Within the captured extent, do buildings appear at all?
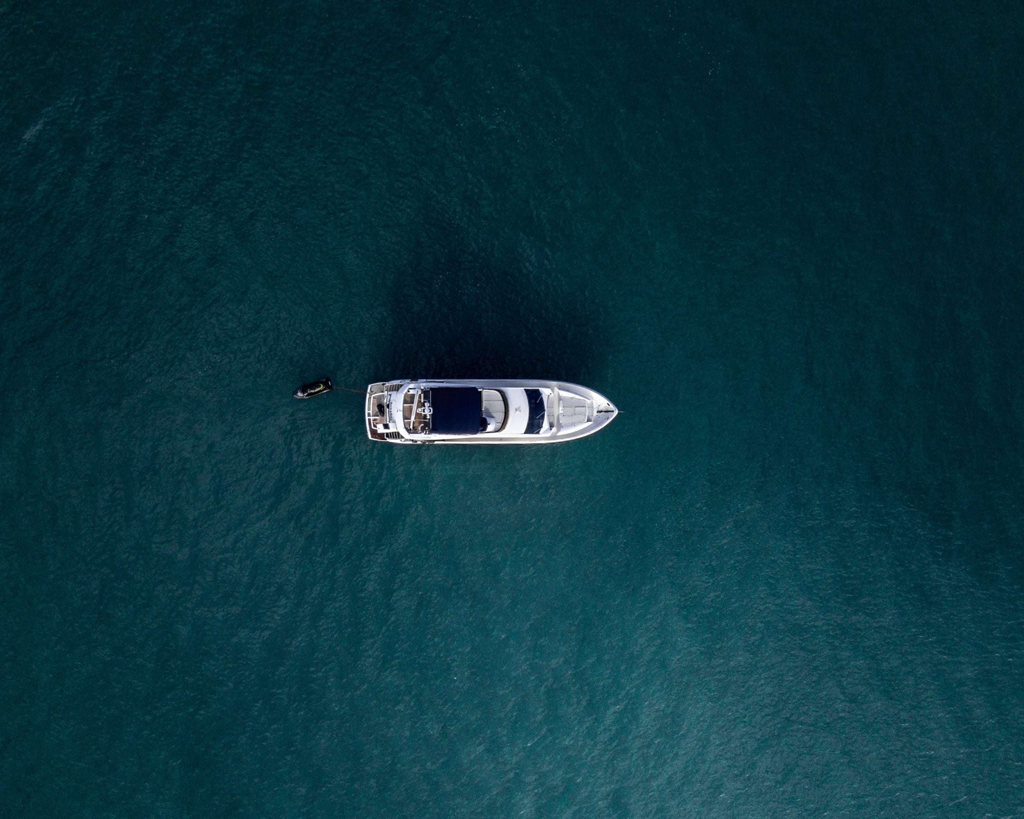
No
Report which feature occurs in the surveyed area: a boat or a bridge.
boat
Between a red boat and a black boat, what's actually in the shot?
black boat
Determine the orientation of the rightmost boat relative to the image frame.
from side to side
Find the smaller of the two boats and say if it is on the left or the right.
left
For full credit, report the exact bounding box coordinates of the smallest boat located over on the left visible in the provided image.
[292,378,331,398]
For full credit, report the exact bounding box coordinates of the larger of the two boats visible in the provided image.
[365,379,626,444]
